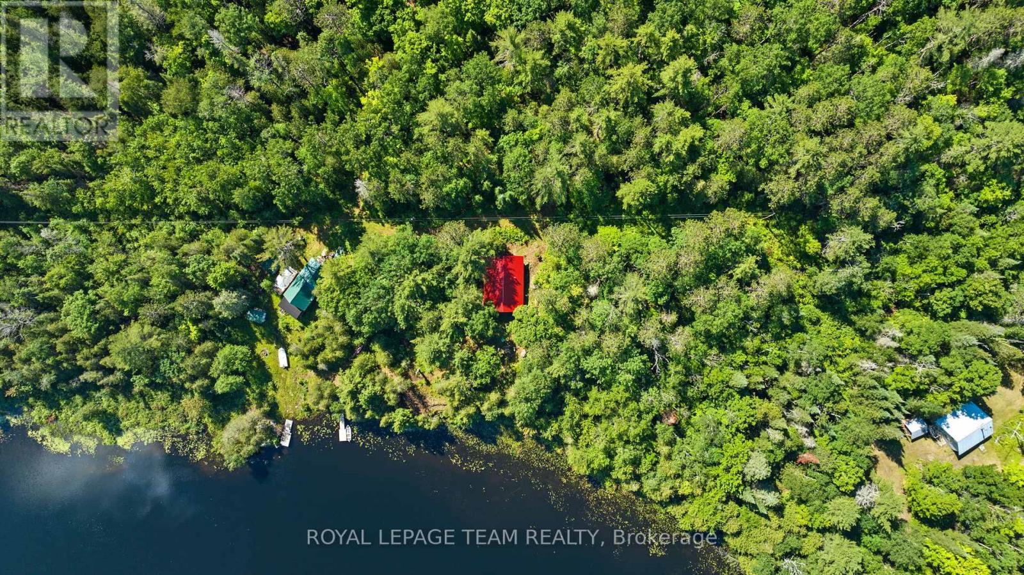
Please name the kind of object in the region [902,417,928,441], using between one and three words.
shed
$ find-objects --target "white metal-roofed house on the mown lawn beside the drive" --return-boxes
[931,404,993,457]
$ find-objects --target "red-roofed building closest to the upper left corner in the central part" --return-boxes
[483,255,524,313]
